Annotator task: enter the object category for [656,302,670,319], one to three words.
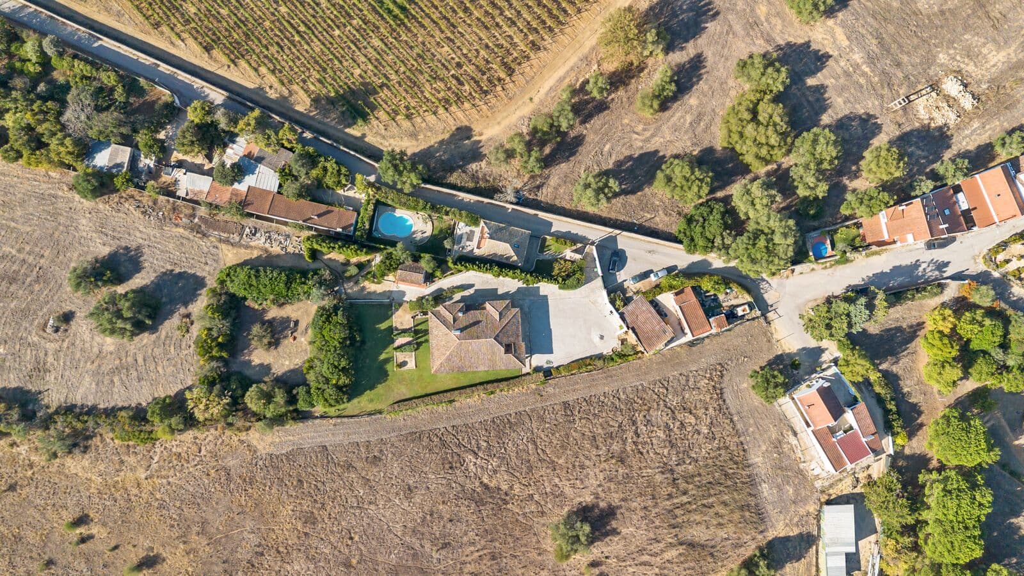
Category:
car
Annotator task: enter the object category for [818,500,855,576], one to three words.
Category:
barn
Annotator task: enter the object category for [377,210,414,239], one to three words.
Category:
swimming pool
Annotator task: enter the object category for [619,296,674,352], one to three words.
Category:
house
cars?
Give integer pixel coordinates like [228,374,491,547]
[925,239,944,249]
[611,251,622,272]
[631,271,649,282]
[656,302,670,319]
[650,268,668,279]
